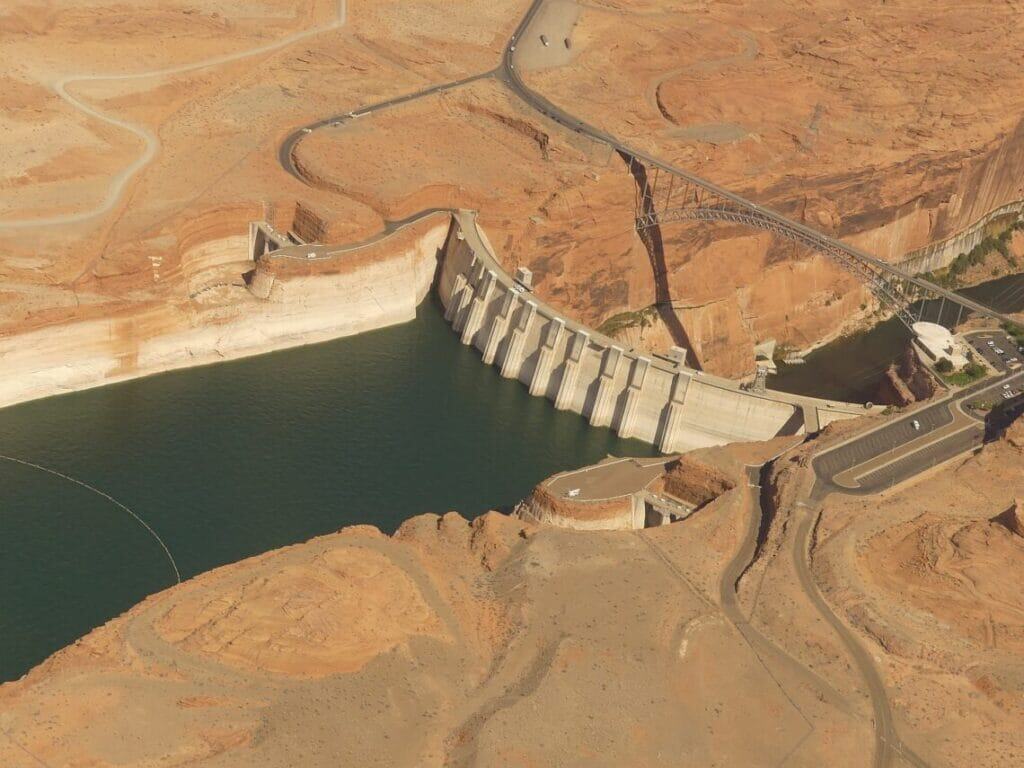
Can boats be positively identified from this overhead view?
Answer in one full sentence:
No, the frame has no boat in it.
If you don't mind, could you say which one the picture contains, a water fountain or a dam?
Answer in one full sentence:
There is a dam in the scene.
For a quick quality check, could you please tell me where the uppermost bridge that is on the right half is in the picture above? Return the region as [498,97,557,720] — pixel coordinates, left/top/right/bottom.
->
[604,140,1024,337]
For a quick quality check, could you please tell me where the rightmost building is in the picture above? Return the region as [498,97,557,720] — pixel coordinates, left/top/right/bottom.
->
[913,319,969,370]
